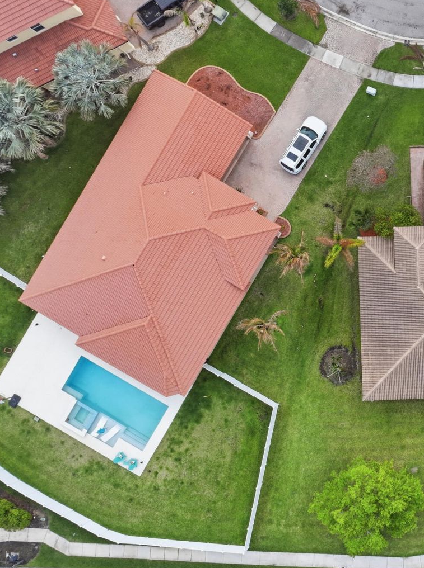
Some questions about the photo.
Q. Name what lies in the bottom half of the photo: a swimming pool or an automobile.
swimming pool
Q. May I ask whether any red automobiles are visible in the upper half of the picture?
No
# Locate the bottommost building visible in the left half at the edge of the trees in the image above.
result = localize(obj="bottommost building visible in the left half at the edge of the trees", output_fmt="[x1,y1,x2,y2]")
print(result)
[19,69,284,397]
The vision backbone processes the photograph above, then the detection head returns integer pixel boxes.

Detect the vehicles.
[280,116,325,176]
[134,0,198,31]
